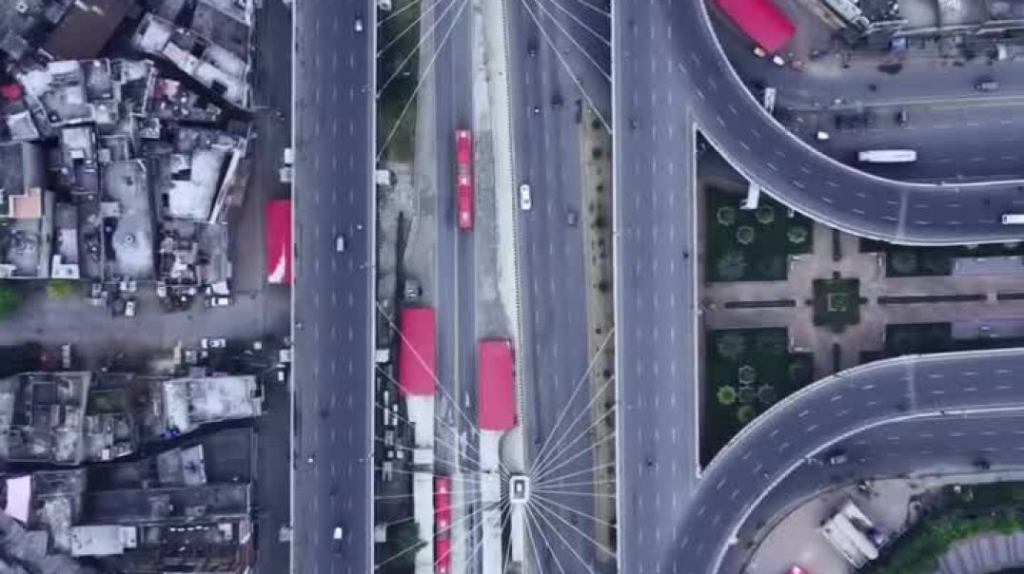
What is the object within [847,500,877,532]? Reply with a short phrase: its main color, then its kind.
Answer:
white truck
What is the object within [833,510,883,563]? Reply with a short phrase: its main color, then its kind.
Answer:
white truck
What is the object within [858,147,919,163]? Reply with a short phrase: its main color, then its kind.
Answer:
white vehicle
